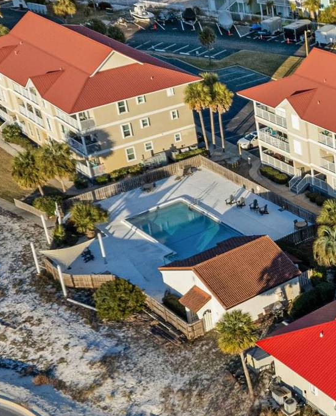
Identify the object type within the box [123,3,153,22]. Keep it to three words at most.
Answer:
boat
